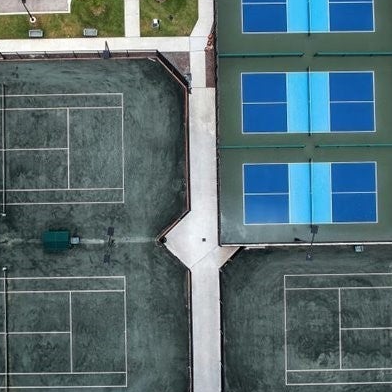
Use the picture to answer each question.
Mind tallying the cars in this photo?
0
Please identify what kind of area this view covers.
sports ground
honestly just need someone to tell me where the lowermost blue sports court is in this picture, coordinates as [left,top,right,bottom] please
[243,162,378,225]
